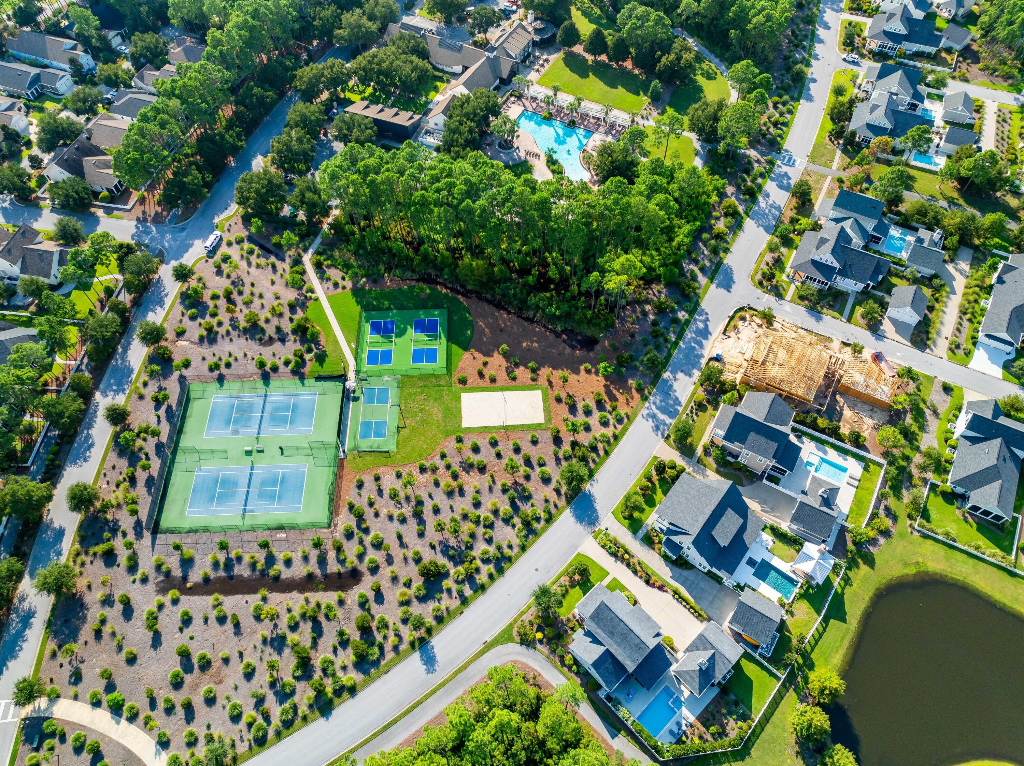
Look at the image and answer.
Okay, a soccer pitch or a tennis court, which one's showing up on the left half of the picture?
tennis court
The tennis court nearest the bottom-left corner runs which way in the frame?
from left to right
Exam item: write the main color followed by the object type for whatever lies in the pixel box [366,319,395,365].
blue sports court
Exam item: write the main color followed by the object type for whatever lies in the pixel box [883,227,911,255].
blue swimming pool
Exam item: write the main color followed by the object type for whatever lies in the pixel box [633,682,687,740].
blue swimming pool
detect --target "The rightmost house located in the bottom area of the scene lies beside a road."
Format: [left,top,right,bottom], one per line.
[949,399,1024,524]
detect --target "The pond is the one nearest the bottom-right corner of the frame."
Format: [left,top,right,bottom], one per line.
[815,580,1024,766]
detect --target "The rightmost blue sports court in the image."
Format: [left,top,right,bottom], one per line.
[411,318,440,364]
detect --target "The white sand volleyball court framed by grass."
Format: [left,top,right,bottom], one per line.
[461,390,544,427]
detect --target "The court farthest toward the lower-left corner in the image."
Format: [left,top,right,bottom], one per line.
[185,460,308,517]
